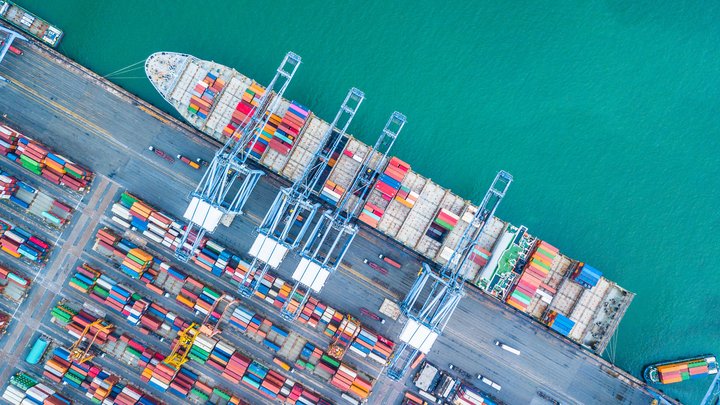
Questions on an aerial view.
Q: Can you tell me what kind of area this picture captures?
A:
port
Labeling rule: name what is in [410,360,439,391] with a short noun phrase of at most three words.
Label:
shed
